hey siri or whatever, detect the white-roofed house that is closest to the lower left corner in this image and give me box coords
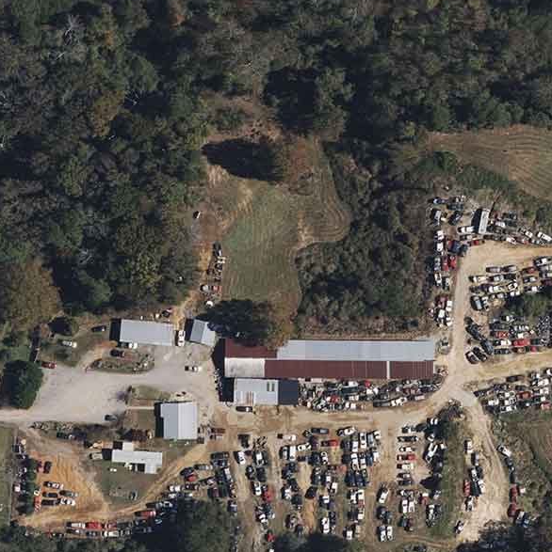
[112,443,162,474]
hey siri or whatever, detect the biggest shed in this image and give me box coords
[225,339,437,379]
